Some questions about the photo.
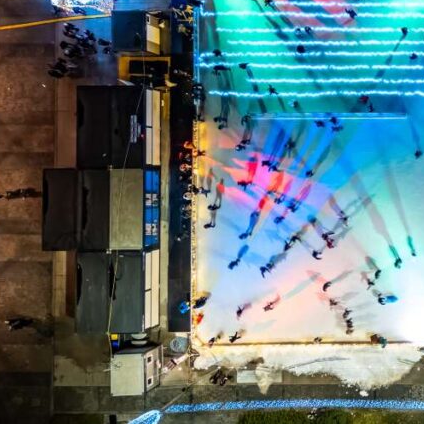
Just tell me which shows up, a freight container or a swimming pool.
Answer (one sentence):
There is a freight container in the scene.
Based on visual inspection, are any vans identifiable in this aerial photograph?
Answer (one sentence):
No, there is no van in the image.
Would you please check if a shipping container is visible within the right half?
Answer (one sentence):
No, there's no shipping container to be seen within the right half.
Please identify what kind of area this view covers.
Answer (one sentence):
This looks like a sports ground.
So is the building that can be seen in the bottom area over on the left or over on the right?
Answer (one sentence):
You can find the building that can be seen in the bottom area on the left side of the picture.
